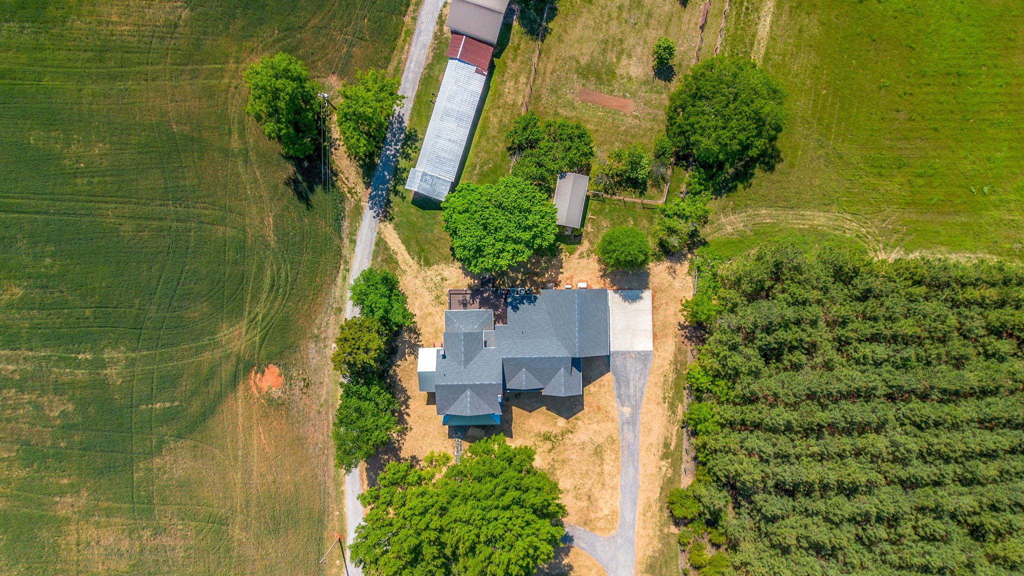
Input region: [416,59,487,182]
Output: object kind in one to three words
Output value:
barn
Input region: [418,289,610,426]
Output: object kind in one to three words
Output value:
house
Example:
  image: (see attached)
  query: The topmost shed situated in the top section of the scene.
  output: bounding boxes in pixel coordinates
[447,0,510,45]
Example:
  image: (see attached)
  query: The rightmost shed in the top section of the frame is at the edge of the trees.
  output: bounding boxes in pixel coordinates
[553,172,589,238]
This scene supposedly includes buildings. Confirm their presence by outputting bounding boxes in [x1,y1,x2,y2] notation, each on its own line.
[418,289,610,426]
[416,59,487,182]
[553,172,589,238]
[447,0,510,45]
